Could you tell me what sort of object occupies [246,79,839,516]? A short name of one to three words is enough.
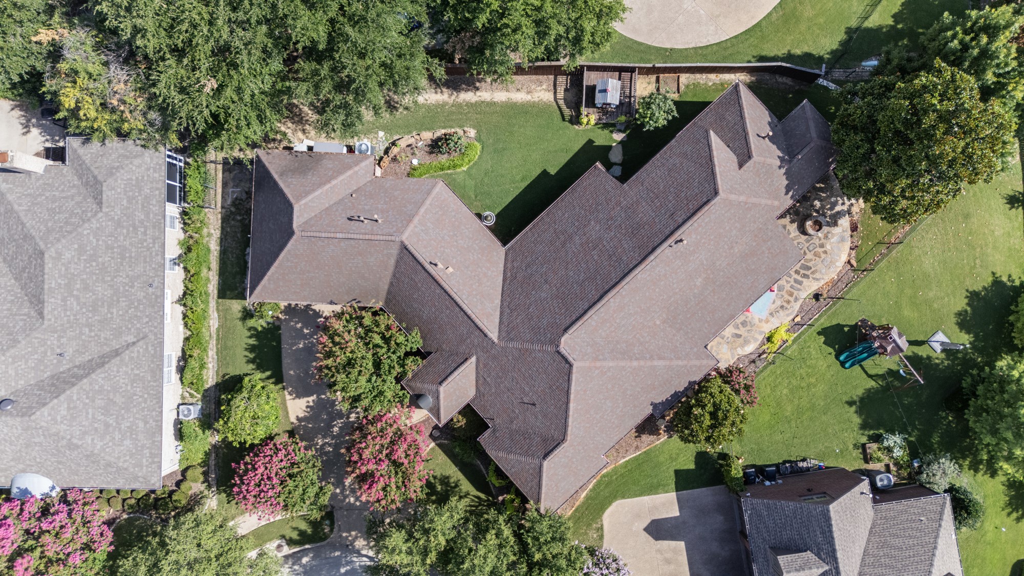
house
